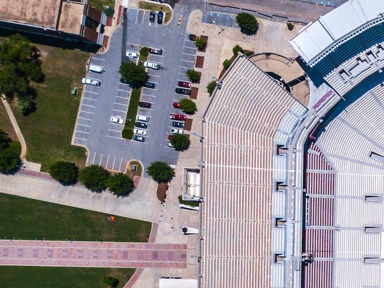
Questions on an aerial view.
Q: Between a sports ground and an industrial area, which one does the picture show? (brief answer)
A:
sports ground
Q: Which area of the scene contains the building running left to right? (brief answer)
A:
top left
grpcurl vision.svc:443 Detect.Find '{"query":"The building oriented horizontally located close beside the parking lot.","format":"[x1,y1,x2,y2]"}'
[0,0,114,48]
